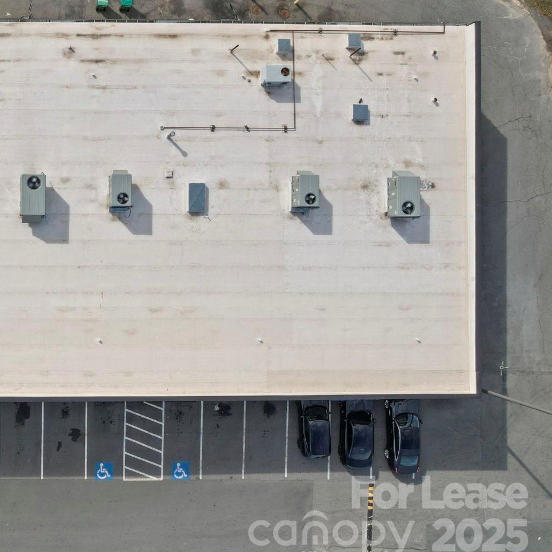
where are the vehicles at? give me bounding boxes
[384,399,427,475]
[338,399,382,471]
[298,399,338,459]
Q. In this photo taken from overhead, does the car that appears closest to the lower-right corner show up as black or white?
black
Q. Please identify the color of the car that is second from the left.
black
